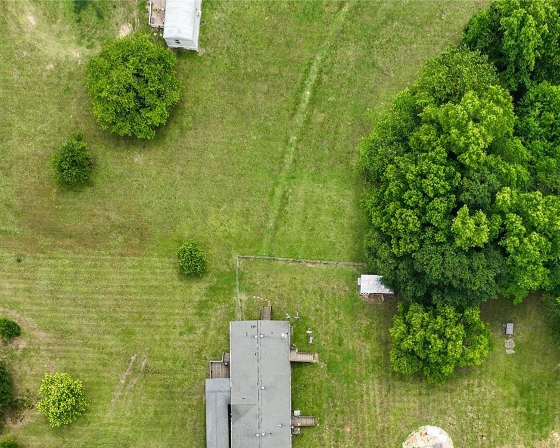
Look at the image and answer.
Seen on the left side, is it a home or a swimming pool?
home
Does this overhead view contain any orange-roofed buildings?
No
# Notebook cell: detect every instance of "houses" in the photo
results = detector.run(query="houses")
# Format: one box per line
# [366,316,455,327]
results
[148,0,201,50]
[206,306,316,448]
